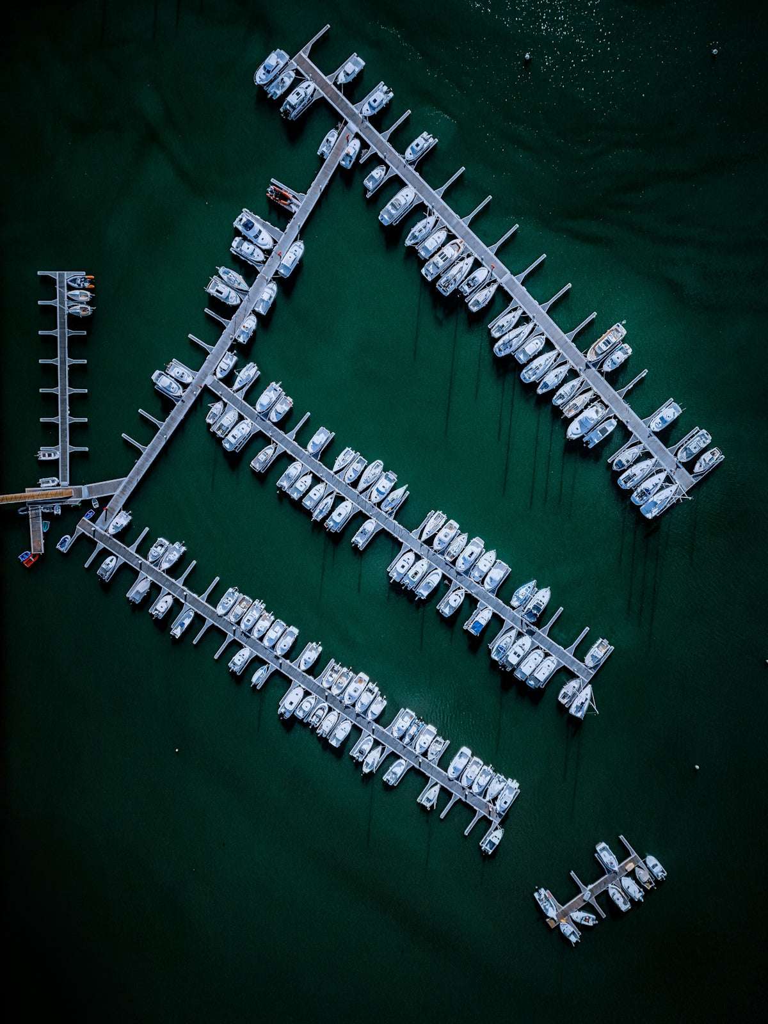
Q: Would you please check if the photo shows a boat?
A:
Yes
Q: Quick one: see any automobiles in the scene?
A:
No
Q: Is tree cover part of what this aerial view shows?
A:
No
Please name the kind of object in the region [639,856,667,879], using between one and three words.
boat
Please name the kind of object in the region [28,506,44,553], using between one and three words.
pier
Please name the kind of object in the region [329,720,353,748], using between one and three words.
boat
